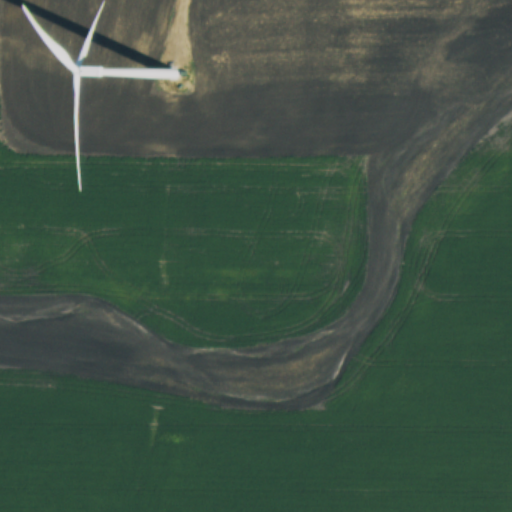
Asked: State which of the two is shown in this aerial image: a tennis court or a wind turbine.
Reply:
wind turbine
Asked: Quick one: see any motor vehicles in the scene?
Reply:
No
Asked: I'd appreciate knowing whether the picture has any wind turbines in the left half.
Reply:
Yes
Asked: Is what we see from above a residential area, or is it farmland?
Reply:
farmland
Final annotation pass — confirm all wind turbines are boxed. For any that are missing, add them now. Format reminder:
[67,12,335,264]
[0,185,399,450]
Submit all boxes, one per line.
[22,0,181,192]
